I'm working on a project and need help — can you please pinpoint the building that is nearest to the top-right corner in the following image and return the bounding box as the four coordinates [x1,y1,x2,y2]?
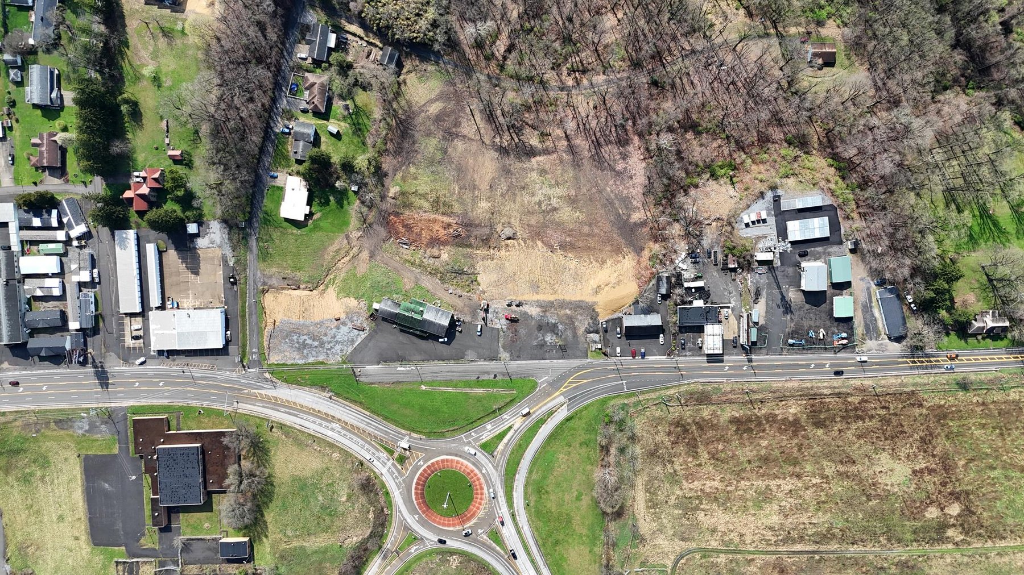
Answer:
[805,43,838,67]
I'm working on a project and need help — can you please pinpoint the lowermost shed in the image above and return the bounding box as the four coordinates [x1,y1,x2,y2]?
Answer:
[220,538,252,558]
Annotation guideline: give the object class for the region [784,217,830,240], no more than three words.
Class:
building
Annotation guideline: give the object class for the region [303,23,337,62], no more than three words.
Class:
house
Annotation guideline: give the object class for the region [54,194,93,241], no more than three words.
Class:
house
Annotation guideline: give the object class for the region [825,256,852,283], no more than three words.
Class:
shed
